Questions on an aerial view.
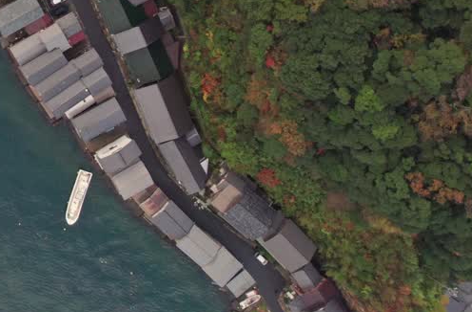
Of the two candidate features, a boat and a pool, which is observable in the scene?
boat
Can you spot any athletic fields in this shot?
No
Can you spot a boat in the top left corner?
No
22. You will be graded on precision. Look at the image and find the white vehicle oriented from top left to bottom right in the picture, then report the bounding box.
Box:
[254,252,268,268]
